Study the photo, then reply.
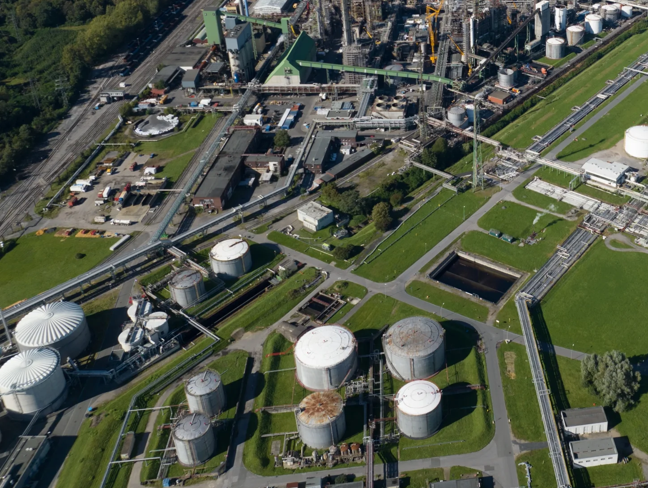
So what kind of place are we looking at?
industrial area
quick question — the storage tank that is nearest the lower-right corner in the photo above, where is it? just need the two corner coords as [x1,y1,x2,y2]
[394,378,442,441]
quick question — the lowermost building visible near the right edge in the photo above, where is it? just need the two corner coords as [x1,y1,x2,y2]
[569,437,618,469]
